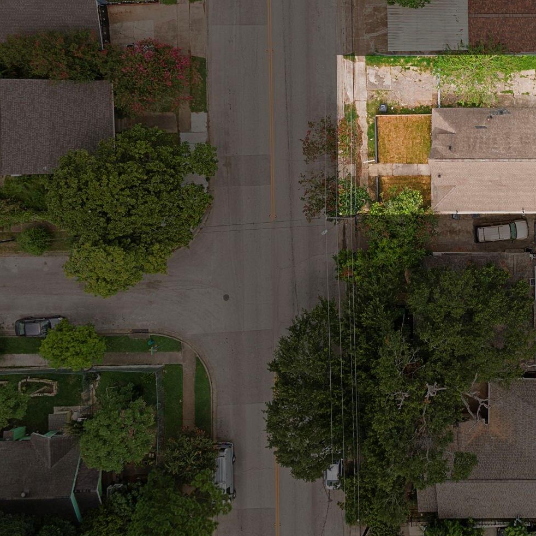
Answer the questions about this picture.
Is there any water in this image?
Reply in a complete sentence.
No, the picture contains no water.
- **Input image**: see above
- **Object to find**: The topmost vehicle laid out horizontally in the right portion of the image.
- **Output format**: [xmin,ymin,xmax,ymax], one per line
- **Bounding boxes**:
[473,217,529,245]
